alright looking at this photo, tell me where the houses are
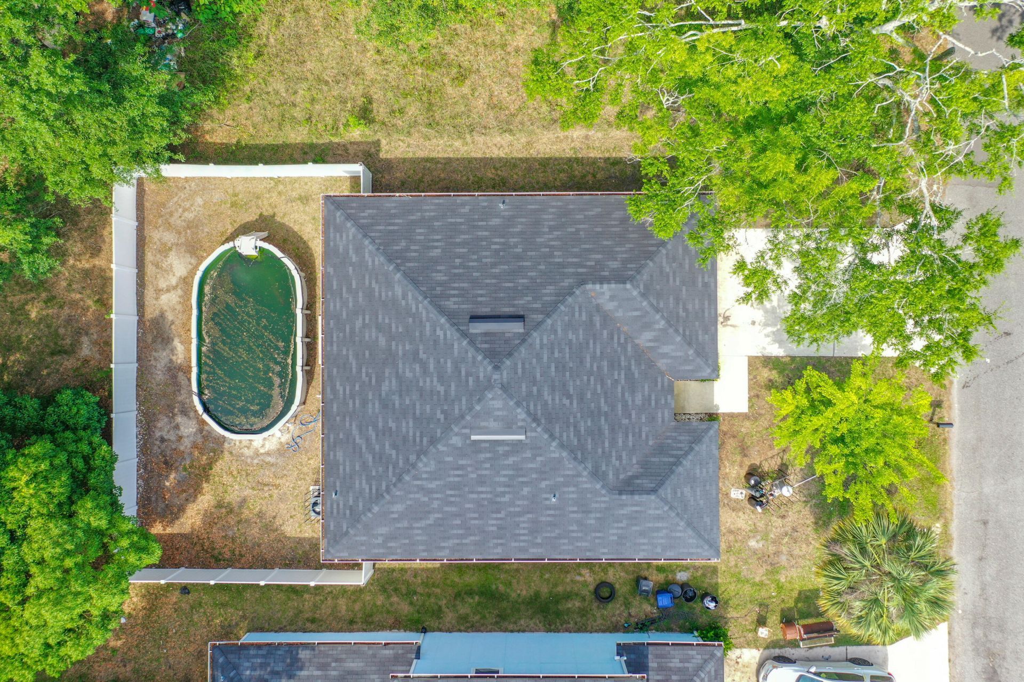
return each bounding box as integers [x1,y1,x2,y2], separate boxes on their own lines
[207,629,726,682]
[319,191,722,563]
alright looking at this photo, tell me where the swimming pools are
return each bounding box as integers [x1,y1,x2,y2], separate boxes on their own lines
[188,242,320,438]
